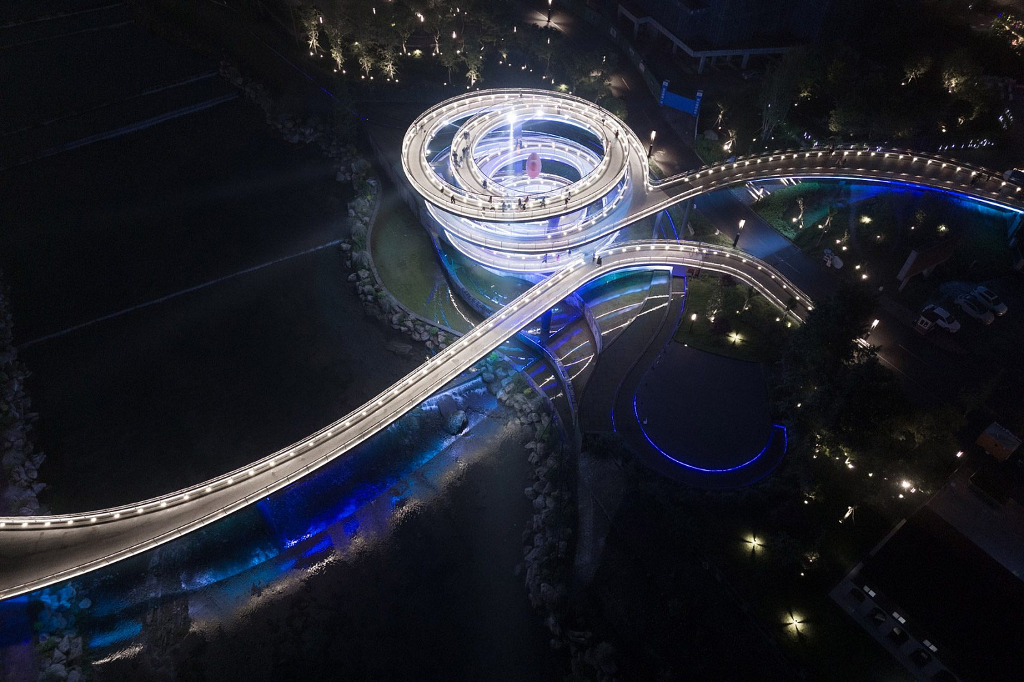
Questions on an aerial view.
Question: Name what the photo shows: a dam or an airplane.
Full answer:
The image shows a dam.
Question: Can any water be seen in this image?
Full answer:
Yes, some water is visible.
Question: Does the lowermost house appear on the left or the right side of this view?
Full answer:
The lowermost house is on the right side of the image.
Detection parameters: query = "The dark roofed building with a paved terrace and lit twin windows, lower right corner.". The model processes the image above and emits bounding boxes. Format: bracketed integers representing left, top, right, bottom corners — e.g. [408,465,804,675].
[827,490,1024,682]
